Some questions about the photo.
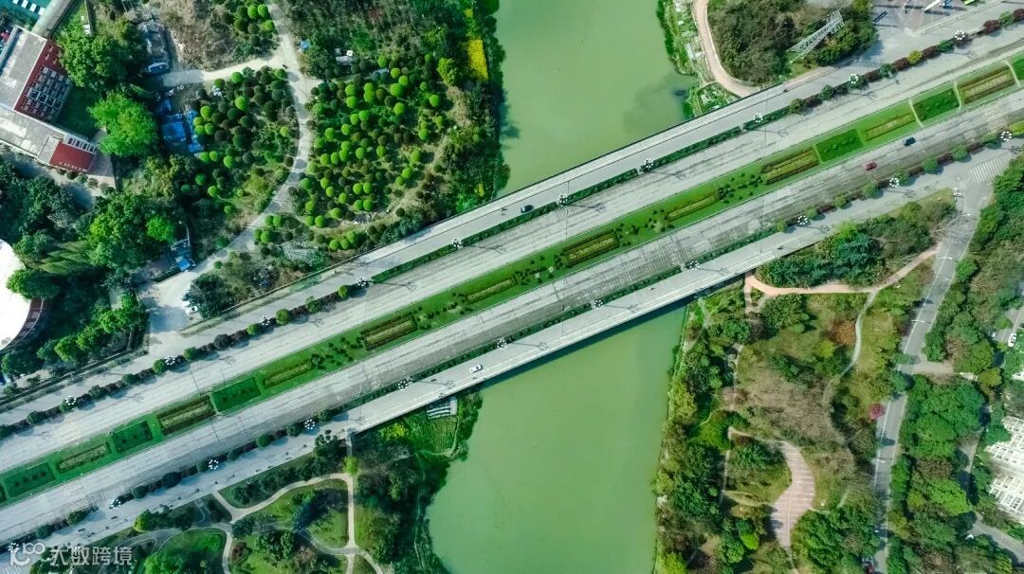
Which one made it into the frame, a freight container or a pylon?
pylon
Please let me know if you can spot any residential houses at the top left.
Yes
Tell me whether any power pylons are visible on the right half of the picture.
Yes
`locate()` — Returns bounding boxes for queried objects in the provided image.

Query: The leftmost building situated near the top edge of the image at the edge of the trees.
[0,24,99,173]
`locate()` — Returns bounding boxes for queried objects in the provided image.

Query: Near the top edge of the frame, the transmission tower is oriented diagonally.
[788,9,845,62]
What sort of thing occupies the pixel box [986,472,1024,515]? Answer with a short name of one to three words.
building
